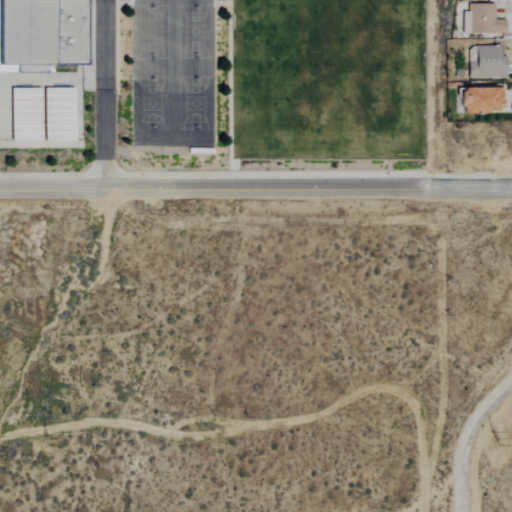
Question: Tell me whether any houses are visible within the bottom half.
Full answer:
No, within the bottom half there is no house.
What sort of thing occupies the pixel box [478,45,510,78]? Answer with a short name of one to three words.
house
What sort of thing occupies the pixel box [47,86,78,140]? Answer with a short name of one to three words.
shed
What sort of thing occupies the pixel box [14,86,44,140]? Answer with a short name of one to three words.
shed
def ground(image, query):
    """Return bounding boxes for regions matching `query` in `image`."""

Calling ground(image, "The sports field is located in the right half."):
[234,0,425,159]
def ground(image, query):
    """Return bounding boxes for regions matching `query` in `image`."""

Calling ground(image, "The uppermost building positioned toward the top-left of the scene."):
[4,0,92,65]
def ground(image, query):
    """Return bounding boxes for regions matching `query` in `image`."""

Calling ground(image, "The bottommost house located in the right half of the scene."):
[464,86,506,116]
